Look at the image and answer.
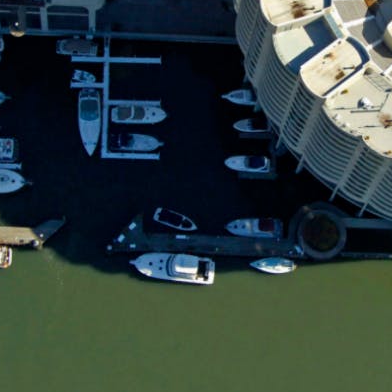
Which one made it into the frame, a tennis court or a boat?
boat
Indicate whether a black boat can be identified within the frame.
Yes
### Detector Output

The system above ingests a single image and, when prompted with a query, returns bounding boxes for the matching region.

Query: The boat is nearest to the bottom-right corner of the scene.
[250,257,296,273]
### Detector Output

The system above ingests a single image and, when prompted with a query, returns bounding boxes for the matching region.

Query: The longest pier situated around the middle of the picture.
[108,213,296,258]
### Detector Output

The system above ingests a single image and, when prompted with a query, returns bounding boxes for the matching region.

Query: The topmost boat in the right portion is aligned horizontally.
[221,88,255,105]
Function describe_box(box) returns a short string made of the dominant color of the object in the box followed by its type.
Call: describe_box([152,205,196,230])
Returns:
black boat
